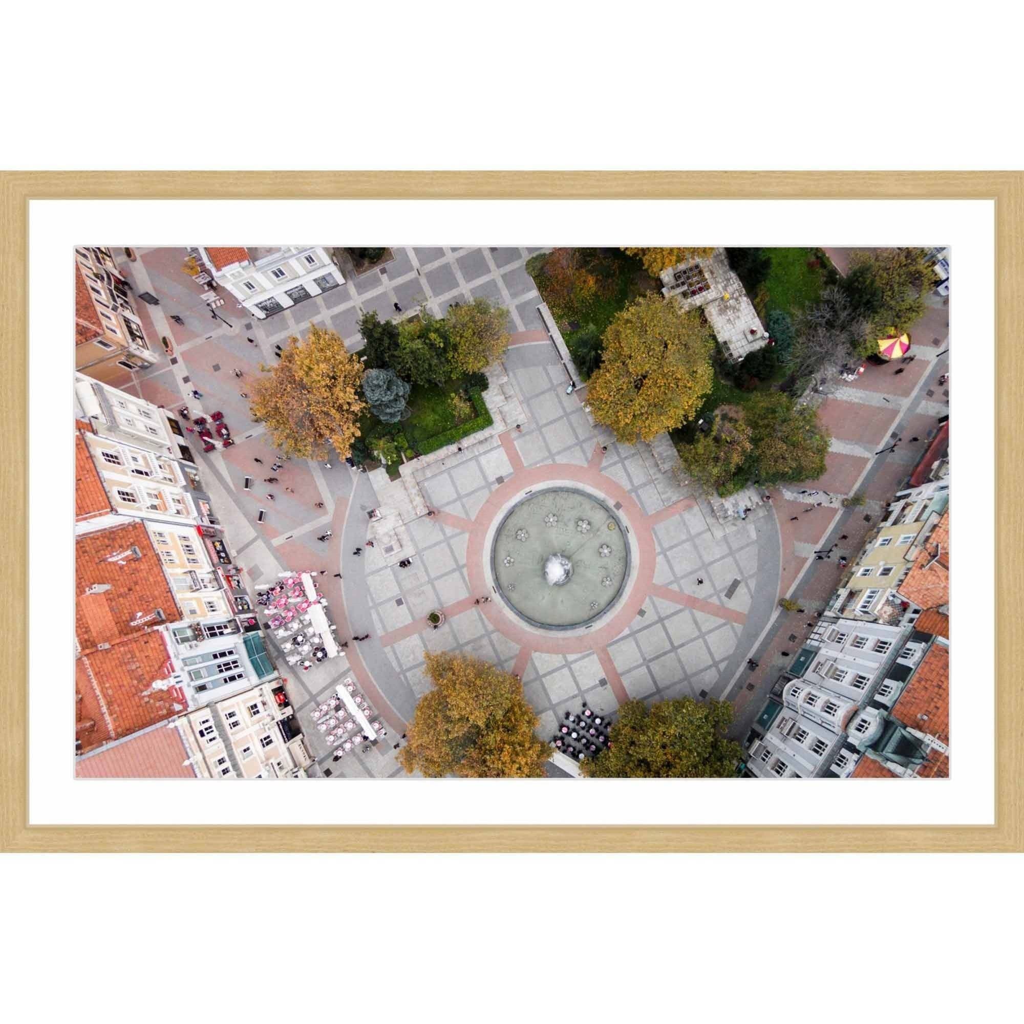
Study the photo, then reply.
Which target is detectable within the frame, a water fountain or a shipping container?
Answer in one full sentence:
I can see a water fountain in this picture.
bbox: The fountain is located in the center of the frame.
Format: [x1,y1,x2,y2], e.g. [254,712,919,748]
[482,480,640,638]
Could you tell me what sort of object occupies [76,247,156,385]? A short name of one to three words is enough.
house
